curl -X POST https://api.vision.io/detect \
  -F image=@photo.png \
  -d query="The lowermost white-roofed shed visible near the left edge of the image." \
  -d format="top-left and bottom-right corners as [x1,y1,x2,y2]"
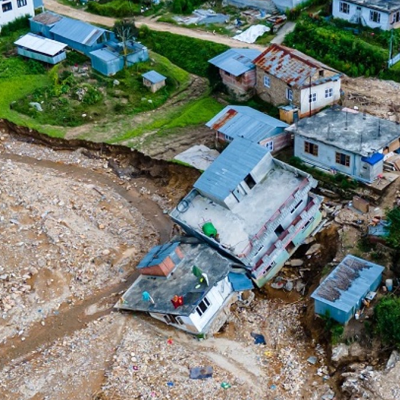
[5,36,71,63]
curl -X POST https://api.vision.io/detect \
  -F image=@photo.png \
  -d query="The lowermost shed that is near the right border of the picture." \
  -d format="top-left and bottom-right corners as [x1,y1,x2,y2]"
[308,252,388,323]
